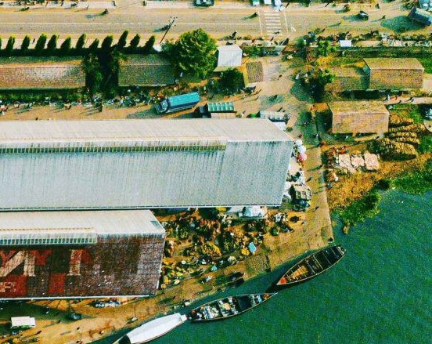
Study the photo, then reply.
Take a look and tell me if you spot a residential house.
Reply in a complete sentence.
Yes, a residential house appears in the view.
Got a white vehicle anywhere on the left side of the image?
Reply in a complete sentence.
Yes, on the left side of the image there is a white vehicle.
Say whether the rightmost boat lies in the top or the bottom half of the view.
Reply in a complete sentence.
It is in the bottom half that the rightmost boat appears.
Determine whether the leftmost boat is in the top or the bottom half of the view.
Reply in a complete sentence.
It is in the bottom half that the leftmost boat appears.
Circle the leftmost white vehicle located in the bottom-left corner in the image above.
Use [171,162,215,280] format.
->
[10,314,39,330]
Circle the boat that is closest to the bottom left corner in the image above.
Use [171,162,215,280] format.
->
[113,310,191,344]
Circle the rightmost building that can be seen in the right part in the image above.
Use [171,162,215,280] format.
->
[358,58,424,99]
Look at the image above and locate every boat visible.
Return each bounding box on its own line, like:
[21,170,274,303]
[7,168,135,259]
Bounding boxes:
[189,290,280,316]
[113,310,191,344]
[274,244,348,287]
